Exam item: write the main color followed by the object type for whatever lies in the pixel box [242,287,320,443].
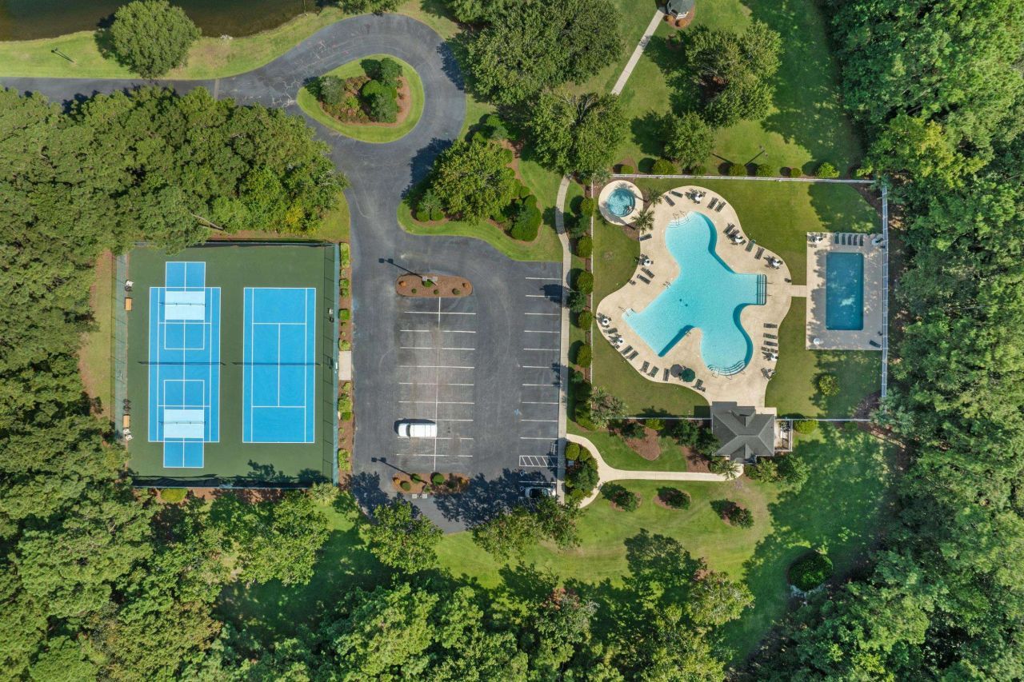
blue tennis court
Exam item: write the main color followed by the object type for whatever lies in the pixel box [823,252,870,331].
blue swimming pool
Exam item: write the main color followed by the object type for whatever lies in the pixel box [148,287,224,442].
blue tennis court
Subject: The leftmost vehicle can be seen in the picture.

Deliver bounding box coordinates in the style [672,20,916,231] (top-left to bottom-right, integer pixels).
[397,422,436,438]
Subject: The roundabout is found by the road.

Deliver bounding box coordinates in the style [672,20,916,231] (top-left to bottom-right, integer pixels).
[297,54,424,143]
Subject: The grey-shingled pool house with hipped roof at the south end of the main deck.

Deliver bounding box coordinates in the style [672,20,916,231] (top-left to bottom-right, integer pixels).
[710,410,775,462]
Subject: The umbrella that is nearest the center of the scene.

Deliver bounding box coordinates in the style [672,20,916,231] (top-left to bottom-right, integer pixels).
[681,368,696,382]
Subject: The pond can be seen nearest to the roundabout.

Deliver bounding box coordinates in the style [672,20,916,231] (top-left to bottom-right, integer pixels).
[0,0,319,41]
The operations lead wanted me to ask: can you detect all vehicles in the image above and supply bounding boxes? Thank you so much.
[397,422,436,438]
[525,486,556,500]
